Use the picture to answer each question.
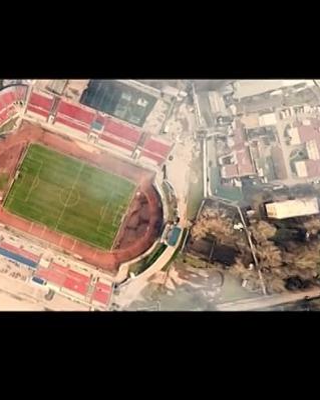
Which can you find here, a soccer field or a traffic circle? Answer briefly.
soccer field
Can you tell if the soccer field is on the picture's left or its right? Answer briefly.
left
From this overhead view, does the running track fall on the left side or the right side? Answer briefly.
left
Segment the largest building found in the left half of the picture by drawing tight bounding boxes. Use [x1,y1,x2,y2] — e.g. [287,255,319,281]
[80,80,158,128]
